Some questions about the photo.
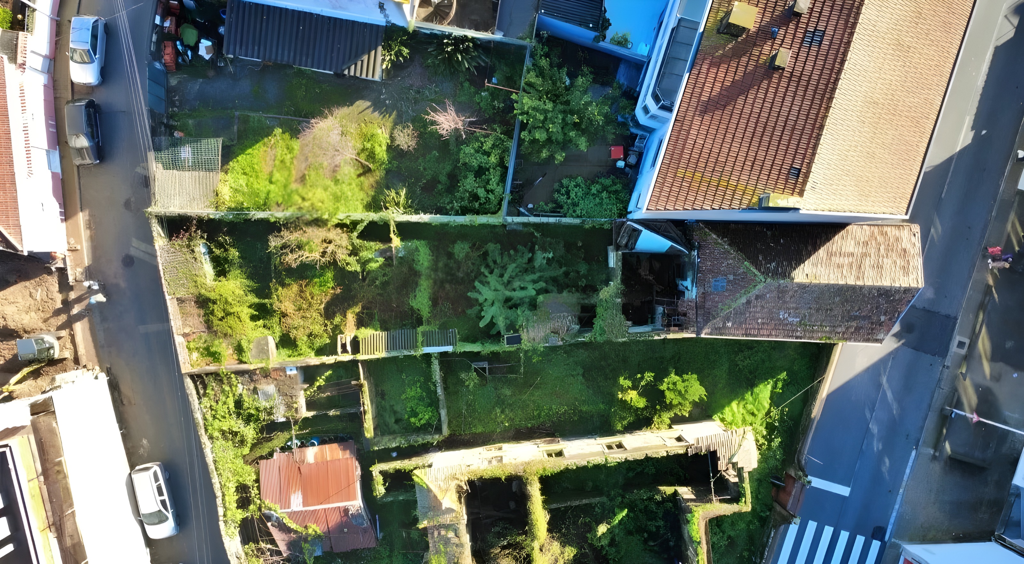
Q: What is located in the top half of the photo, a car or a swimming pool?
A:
car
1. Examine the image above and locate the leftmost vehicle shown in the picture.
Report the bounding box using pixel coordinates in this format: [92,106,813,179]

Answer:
[0,332,71,401]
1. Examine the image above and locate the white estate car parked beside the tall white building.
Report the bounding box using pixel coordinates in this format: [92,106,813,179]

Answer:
[132,463,180,538]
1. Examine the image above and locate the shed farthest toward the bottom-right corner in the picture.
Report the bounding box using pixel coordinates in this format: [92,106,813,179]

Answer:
[767,468,809,514]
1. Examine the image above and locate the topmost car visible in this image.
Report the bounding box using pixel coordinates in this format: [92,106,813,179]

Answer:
[69,15,110,87]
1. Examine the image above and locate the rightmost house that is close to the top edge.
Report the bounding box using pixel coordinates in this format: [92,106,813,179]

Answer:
[624,0,979,222]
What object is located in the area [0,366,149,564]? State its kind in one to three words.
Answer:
building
